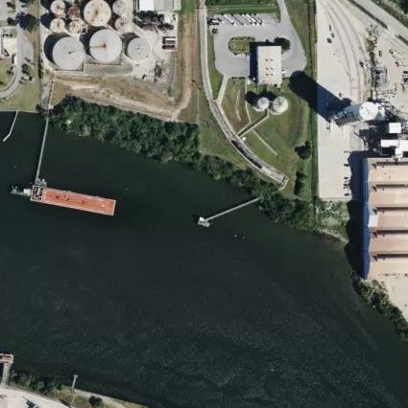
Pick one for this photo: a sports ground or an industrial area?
industrial area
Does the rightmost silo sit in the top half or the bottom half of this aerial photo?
top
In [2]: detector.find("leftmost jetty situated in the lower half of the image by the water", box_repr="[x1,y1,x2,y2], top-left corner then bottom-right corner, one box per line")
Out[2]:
[0,354,13,389]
